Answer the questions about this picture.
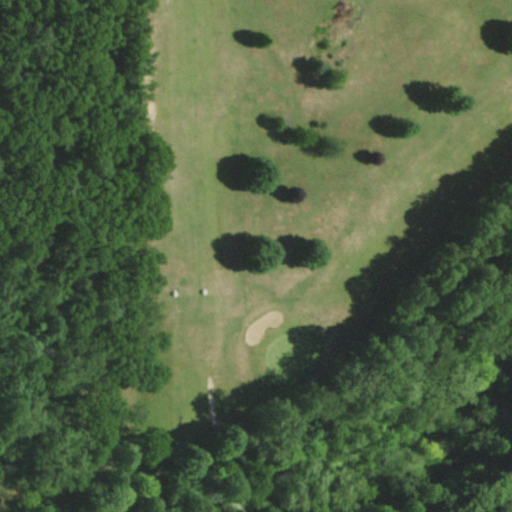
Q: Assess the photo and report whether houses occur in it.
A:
No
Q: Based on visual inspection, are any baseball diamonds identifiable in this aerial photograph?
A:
No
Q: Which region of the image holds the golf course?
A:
center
